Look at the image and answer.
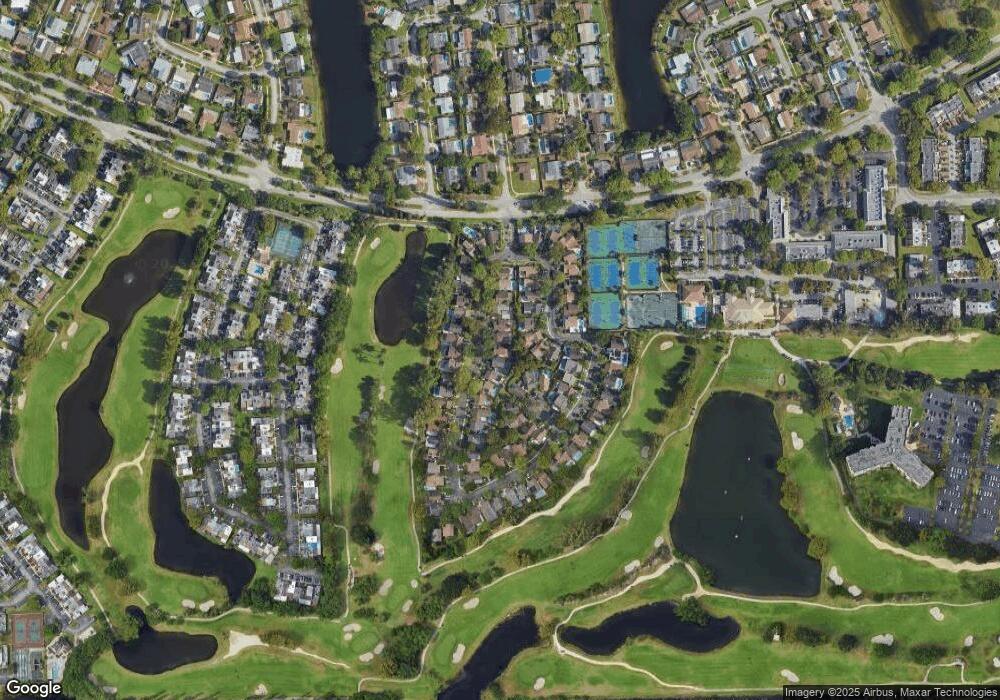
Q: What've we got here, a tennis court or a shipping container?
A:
tennis court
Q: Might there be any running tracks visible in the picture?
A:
No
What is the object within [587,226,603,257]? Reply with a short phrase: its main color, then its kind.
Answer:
blue tennis court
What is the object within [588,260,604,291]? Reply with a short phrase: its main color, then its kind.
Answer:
blue tennis court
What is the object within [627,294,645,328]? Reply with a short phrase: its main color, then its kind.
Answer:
gray tennis court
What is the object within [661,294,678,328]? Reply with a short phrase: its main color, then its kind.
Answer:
gray tennis court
